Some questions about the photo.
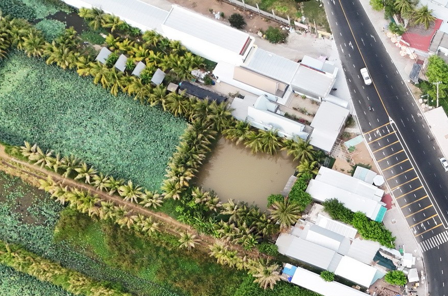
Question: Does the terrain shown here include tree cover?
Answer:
Yes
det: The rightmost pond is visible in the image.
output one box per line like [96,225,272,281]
[194,137,298,210]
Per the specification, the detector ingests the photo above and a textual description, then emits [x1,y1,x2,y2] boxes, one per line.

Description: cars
[360,65,372,83]
[439,155,448,172]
